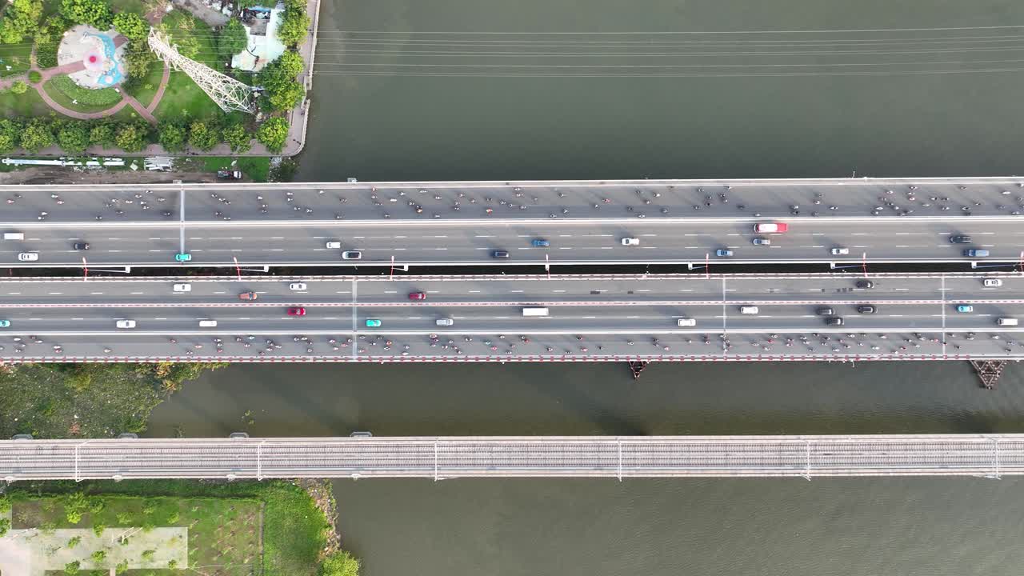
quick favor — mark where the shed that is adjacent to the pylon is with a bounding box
[230,6,287,70]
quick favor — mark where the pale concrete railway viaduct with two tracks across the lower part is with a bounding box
[0,430,1024,482]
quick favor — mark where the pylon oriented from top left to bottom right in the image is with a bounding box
[148,26,256,116]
